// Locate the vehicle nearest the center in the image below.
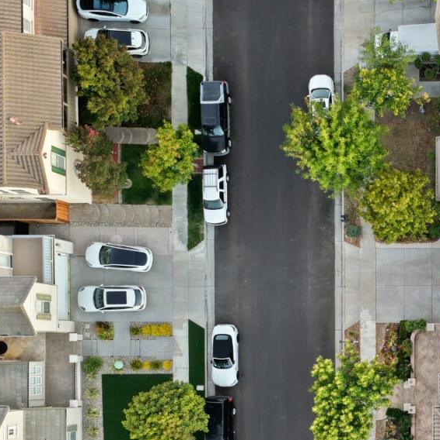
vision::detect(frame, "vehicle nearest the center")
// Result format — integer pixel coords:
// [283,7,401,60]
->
[197,165,233,227]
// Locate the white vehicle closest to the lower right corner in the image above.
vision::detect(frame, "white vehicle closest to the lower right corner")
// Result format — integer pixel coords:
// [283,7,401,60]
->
[207,323,241,388]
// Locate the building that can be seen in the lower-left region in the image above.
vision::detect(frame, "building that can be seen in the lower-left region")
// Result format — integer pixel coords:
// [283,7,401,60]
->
[0,235,95,440]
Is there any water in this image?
No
